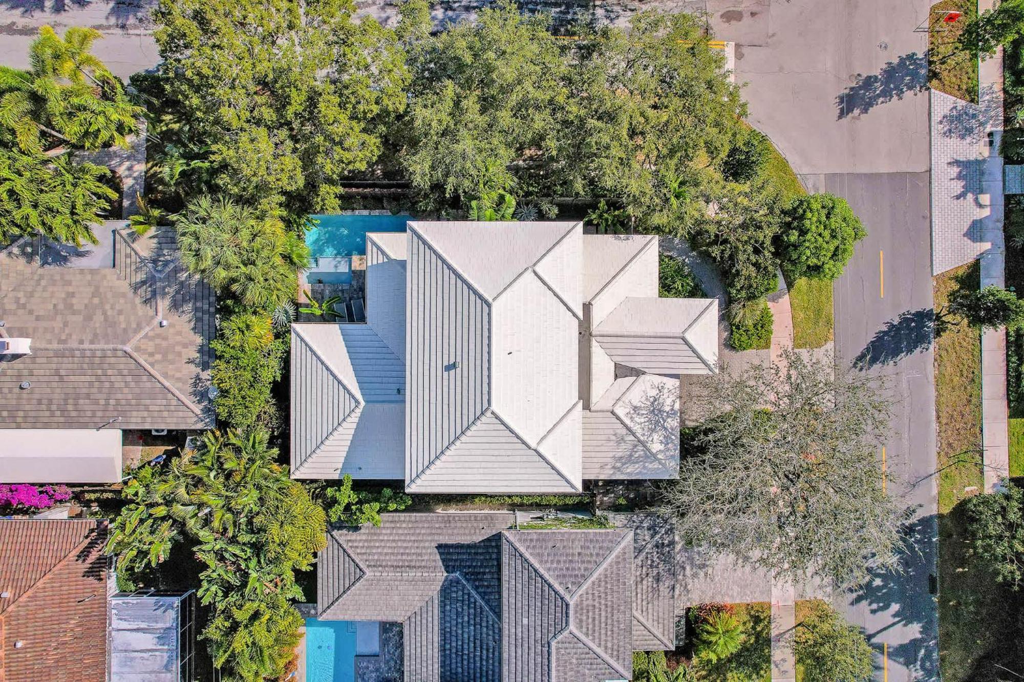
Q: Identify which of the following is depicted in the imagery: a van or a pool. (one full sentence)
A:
I can see a pool in this picture.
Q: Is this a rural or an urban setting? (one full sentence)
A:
The area is urban.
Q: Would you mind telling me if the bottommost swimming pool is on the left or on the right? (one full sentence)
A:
You can find the bottommost swimming pool on the left side of the picture.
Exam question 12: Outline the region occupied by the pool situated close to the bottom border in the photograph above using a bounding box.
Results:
[307,617,384,682]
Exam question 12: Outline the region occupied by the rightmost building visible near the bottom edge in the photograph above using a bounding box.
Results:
[314,511,677,682]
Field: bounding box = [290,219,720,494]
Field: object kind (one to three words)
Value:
house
